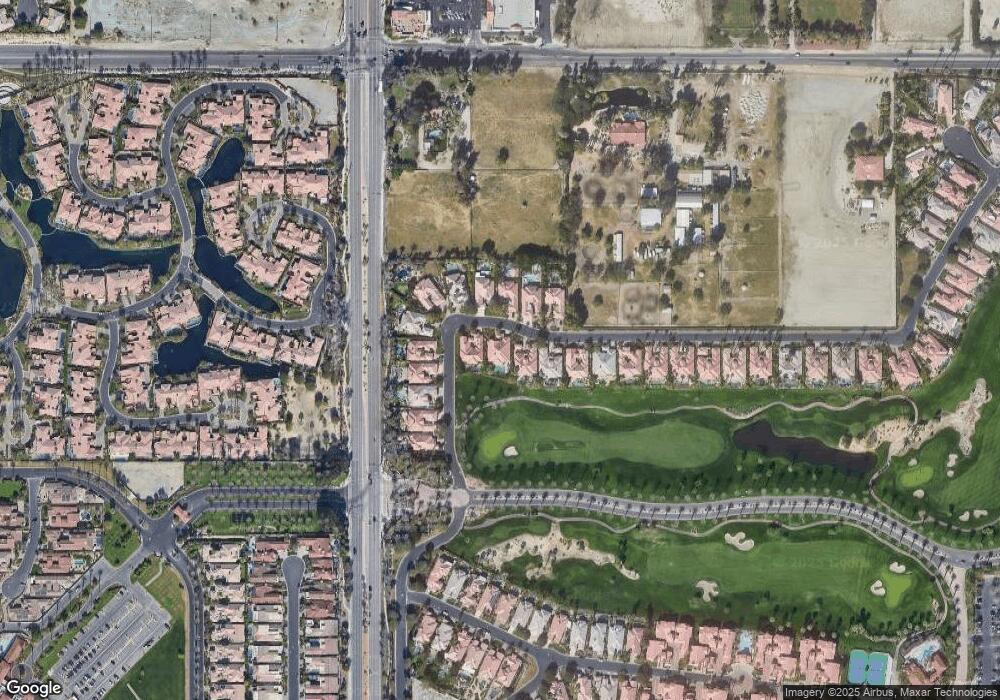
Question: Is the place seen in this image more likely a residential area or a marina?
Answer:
residential area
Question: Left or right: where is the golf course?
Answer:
right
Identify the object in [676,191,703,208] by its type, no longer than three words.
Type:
barn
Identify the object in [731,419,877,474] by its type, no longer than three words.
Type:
pond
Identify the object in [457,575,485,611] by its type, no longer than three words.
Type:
house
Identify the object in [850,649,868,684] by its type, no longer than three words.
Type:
tennis court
